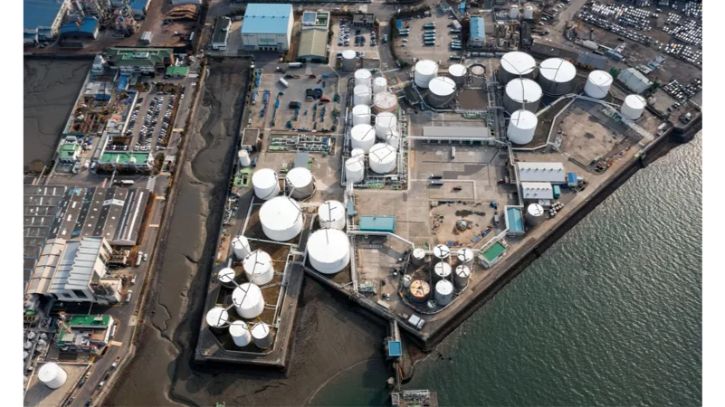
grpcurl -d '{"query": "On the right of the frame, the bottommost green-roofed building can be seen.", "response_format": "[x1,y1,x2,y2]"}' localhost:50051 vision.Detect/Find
[479,239,508,266]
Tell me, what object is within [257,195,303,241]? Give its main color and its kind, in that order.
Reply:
white storage tank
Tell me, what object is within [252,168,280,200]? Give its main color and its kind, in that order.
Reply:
white storage tank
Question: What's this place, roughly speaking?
industrial area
